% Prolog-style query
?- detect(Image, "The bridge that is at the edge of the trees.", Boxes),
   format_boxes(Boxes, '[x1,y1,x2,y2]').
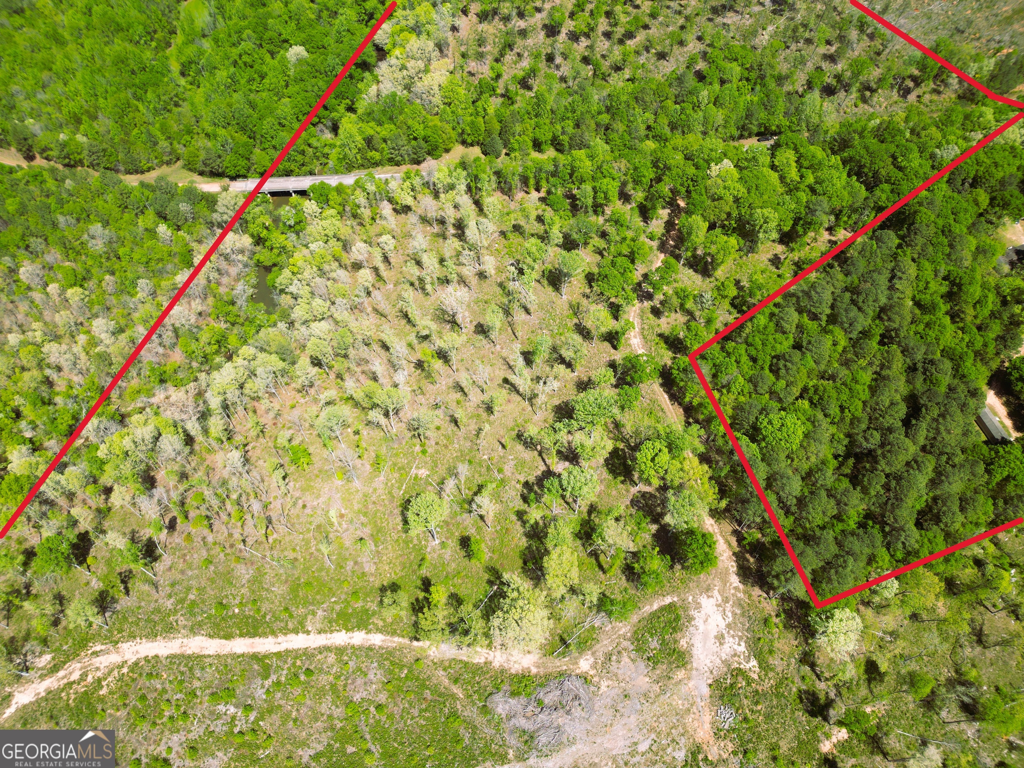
[229,170,352,200]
